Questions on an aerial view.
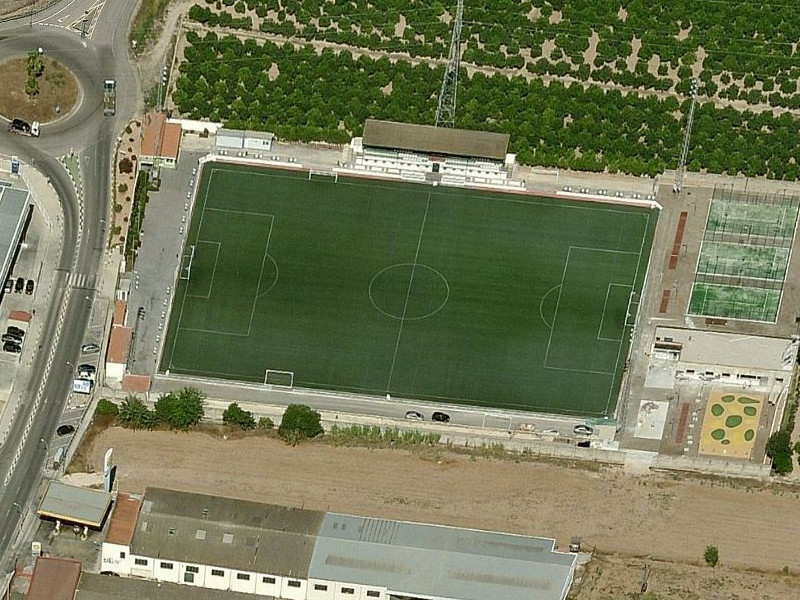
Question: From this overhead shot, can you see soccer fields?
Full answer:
Yes, there is a soccer field in the image.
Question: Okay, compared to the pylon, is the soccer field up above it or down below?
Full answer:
Looking at the scene, the soccer field is located below the pylon.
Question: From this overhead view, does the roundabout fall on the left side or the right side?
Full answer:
It is on the left.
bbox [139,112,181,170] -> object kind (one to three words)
building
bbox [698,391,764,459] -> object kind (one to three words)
playground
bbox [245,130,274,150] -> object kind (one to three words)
building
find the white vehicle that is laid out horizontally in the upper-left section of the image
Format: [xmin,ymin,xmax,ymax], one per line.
[10,123,39,137]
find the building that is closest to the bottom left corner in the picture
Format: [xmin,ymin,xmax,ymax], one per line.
[23,556,83,600]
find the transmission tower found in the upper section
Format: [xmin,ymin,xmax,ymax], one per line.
[435,0,472,129]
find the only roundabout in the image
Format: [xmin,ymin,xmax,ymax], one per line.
[0,54,82,124]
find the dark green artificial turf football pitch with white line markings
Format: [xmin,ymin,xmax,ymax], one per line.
[160,162,660,420]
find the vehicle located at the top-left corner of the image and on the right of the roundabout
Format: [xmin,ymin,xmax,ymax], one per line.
[104,81,117,114]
